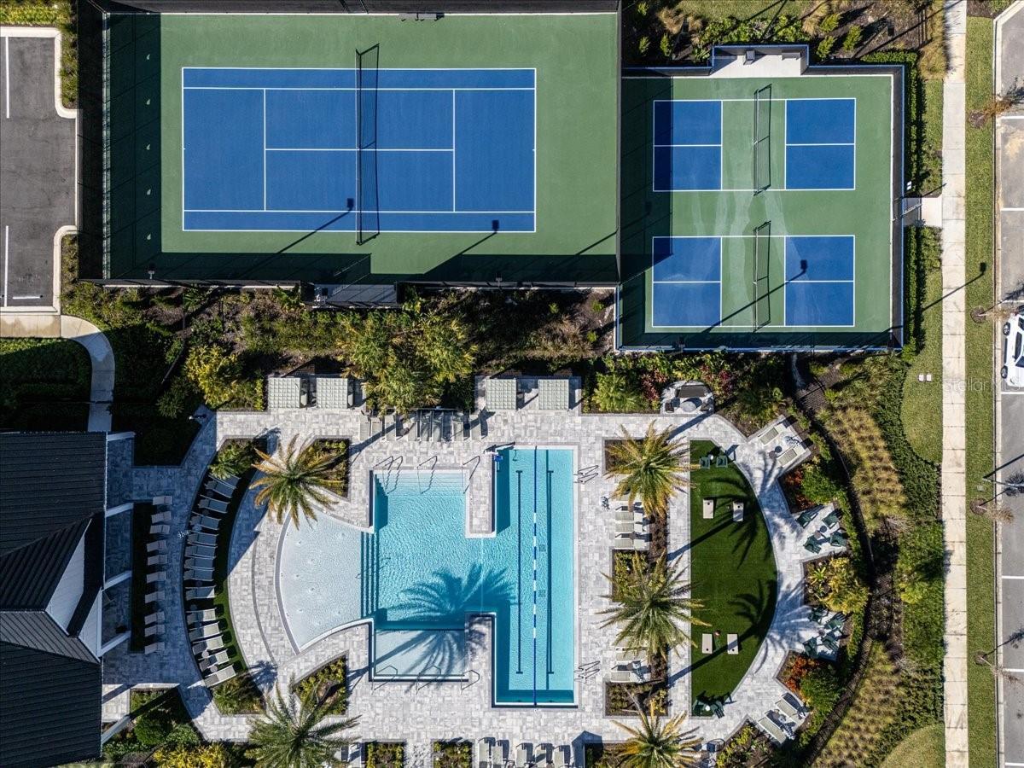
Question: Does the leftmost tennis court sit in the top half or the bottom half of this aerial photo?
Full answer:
The leftmost tennis court is in the top half of the image.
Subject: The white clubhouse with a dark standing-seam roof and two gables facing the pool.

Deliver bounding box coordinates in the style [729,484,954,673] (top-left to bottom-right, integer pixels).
[0,431,135,768]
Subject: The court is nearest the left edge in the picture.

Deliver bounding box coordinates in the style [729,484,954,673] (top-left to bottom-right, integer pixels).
[102,12,617,309]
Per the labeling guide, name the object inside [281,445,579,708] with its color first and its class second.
blue swimming pool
